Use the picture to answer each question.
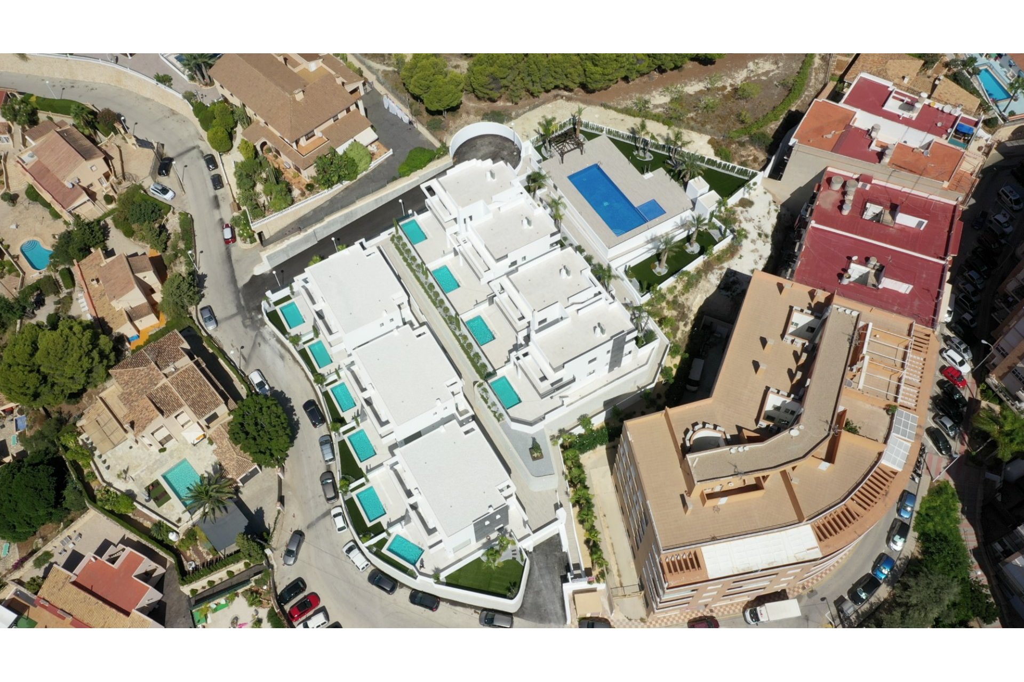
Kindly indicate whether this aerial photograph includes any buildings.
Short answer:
Yes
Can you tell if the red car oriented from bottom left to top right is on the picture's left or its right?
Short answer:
left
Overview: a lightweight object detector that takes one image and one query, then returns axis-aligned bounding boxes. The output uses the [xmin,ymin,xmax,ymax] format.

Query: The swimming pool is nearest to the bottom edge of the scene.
[384,533,427,567]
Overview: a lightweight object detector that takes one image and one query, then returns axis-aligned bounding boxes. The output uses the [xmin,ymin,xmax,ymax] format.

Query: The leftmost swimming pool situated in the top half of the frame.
[18,237,58,272]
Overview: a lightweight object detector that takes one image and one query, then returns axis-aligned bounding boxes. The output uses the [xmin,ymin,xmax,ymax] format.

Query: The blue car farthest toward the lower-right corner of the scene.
[872,552,895,580]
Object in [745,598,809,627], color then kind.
white truck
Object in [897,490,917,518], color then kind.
blue car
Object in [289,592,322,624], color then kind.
red car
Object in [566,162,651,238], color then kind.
blue swimming pool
